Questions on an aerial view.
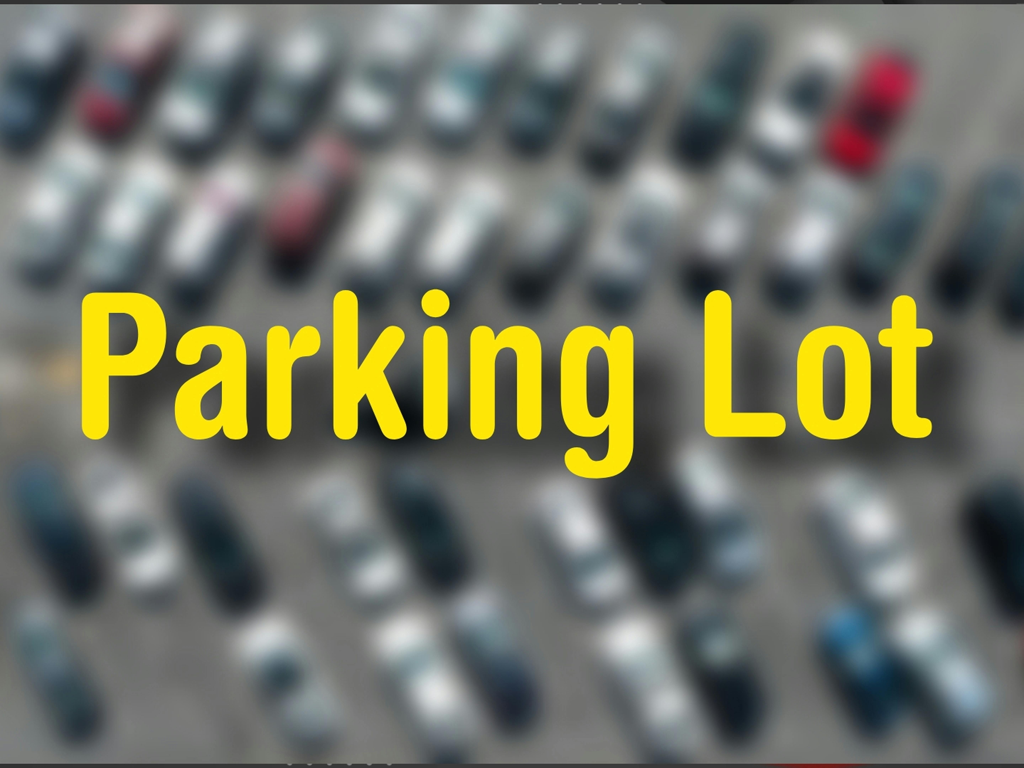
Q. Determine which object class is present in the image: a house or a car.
car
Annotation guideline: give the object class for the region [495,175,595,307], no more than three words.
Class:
car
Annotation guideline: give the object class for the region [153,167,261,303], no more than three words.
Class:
car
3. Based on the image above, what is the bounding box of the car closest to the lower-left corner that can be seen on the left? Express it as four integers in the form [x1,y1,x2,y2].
[8,604,113,753]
